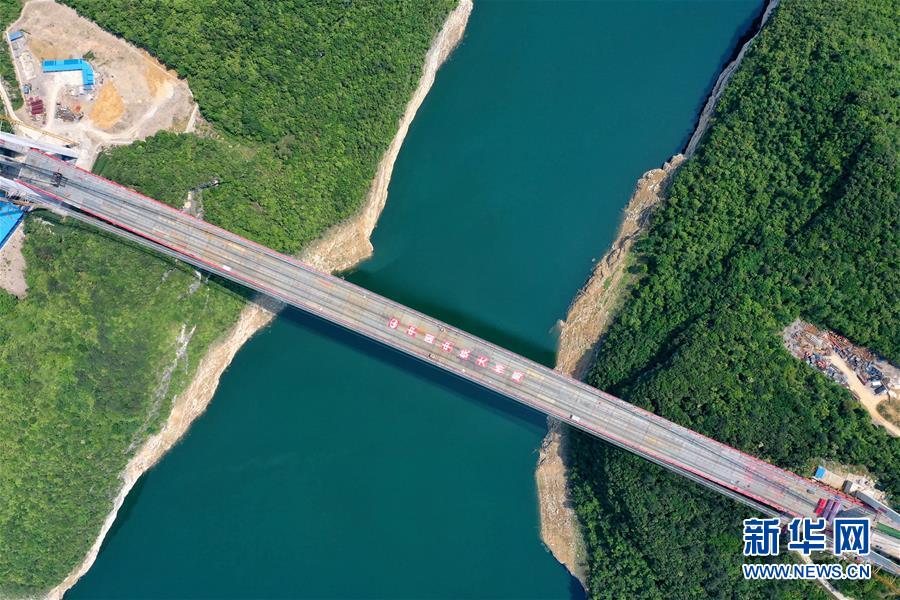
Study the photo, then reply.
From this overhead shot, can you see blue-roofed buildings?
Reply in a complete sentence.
Yes, you can see a blue-roofed building in this photo.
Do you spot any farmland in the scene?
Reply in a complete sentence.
No, no farmland is visible.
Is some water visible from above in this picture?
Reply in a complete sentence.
Yes, water shows up in the scene.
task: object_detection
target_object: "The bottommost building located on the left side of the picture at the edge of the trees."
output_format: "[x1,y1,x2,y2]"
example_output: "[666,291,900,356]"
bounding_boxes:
[0,203,28,251]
